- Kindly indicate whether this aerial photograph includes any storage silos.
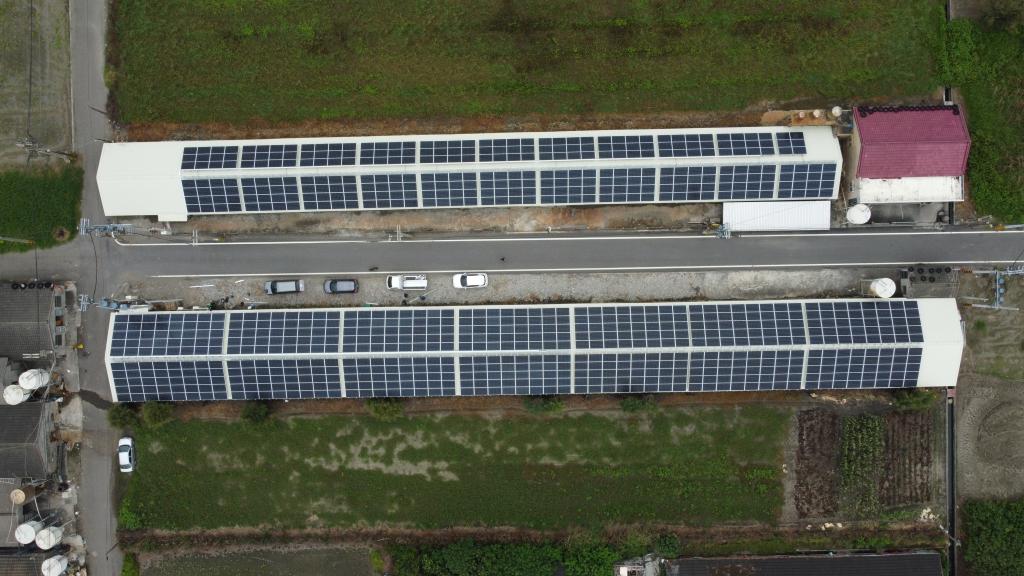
Yes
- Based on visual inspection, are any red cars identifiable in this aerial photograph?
No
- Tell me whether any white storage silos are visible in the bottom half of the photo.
Yes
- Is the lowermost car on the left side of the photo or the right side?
left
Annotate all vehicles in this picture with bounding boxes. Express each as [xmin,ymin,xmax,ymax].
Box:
[266,278,305,295]
[324,278,359,295]
[116,435,136,473]
[386,274,428,291]
[452,272,488,290]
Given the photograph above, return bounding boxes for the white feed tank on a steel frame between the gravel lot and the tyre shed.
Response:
[859,277,897,299]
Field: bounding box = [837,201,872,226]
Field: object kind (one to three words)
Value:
silo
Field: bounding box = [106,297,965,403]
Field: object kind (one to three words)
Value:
barn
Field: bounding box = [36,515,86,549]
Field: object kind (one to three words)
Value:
silo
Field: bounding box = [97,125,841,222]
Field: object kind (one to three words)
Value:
barn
